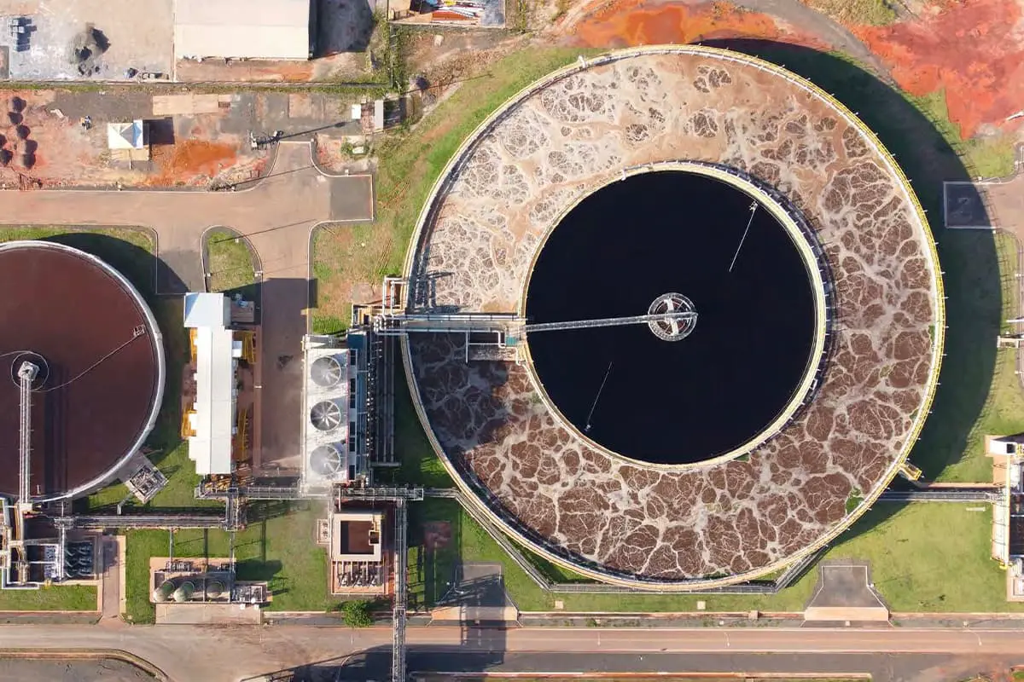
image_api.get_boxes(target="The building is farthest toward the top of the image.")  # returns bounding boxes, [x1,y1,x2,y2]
[175,0,315,67]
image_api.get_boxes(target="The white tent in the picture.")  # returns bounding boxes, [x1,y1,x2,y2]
[108,120,149,152]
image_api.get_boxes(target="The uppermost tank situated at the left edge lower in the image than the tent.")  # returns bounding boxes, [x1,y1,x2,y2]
[0,238,164,508]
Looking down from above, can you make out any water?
Yes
